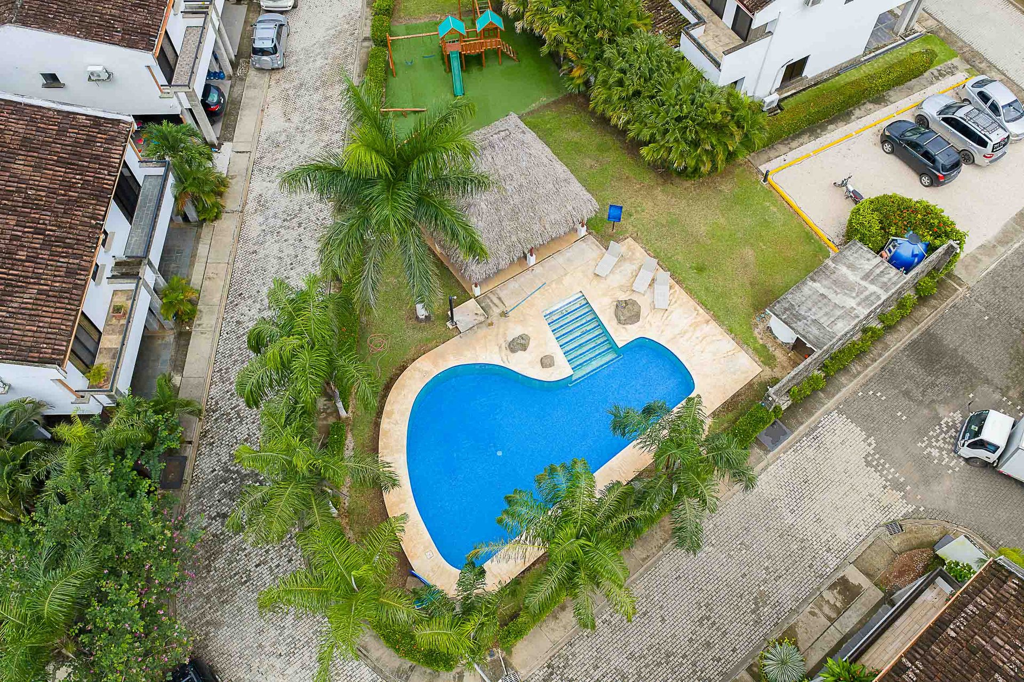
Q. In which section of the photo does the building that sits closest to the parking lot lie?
right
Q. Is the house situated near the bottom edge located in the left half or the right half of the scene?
right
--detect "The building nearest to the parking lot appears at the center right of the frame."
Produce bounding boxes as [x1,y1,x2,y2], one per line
[767,237,905,372]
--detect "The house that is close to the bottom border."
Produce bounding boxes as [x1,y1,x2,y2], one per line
[816,549,1024,682]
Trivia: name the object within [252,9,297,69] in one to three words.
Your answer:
car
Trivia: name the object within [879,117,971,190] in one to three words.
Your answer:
car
